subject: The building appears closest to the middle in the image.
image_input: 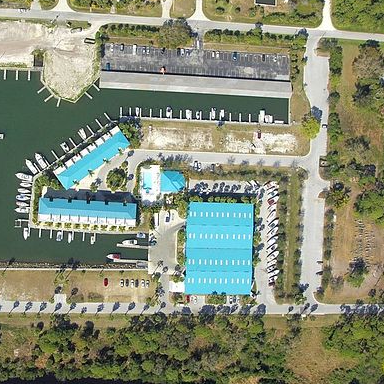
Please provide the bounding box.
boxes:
[161,170,186,192]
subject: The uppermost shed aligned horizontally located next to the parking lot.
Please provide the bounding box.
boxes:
[100,71,292,98]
